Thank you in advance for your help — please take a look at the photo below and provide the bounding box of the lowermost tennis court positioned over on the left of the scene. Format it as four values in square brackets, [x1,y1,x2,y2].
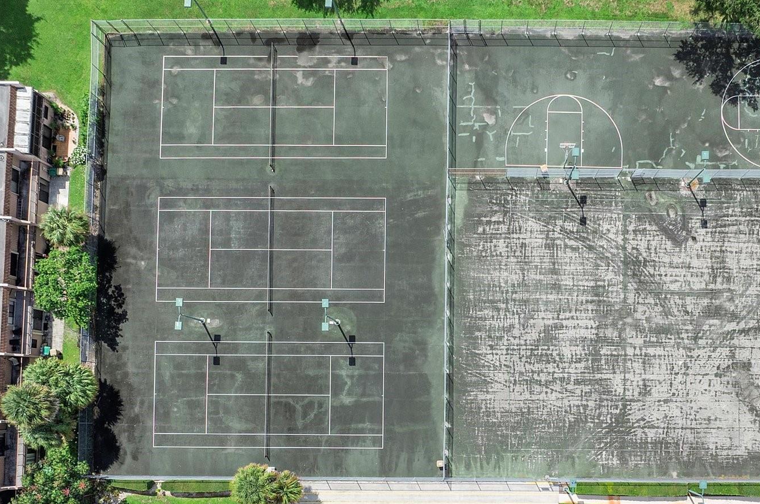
[95,322,446,477]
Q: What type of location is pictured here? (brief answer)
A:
sports ground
